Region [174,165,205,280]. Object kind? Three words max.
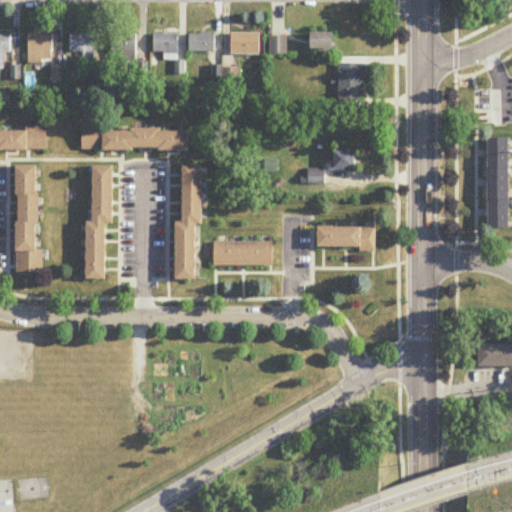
building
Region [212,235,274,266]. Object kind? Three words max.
building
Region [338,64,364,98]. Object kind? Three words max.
house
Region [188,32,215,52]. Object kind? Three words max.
house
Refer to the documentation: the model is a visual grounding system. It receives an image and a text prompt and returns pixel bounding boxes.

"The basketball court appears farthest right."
[19,478,49,500]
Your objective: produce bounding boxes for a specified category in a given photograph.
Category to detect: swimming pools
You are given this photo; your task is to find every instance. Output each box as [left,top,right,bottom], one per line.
[24,71,37,92]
